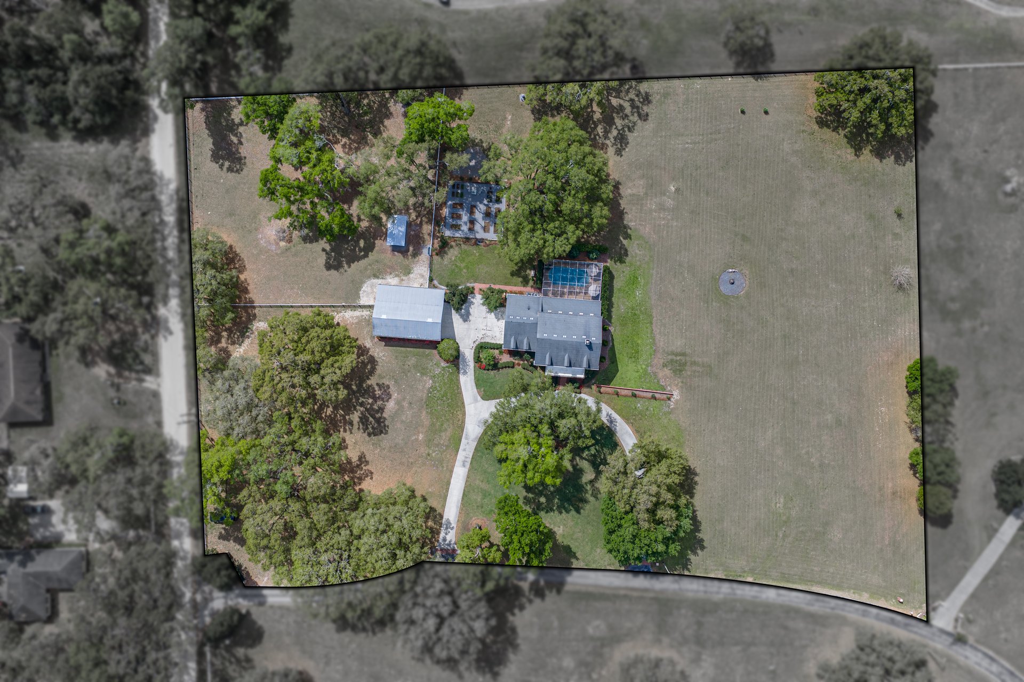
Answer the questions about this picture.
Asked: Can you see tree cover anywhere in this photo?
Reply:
Yes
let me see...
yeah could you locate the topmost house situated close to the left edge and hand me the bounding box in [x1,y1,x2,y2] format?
[0,323,46,423]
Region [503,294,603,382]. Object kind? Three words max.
house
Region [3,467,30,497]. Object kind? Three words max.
shed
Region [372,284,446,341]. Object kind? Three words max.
barn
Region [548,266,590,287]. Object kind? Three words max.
swimming pool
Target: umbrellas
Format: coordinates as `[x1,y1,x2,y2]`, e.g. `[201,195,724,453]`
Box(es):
[589,285,600,296]
[587,264,599,276]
